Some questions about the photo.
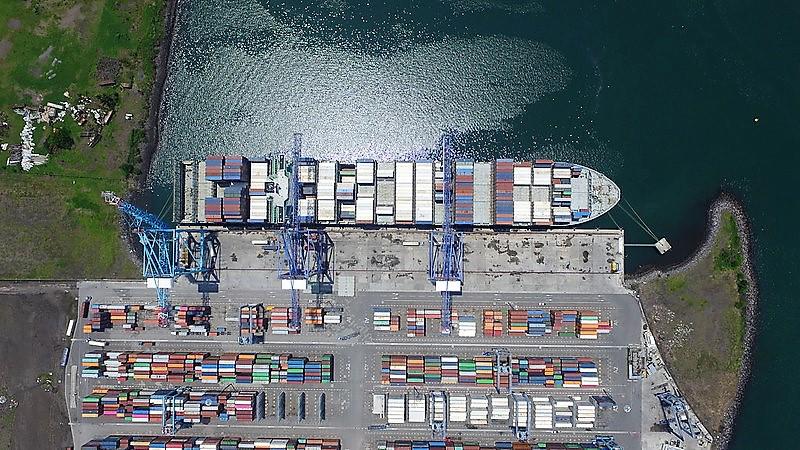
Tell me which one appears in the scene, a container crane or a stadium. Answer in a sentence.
The one in the frame is a container crane.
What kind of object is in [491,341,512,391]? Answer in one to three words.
container crane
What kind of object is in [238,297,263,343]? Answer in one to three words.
container crane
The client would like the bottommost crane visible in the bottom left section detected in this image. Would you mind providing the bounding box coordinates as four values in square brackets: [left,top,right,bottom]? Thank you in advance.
[161,382,190,432]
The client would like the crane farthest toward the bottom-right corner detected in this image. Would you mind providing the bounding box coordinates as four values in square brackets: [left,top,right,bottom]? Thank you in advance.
[655,394,695,441]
